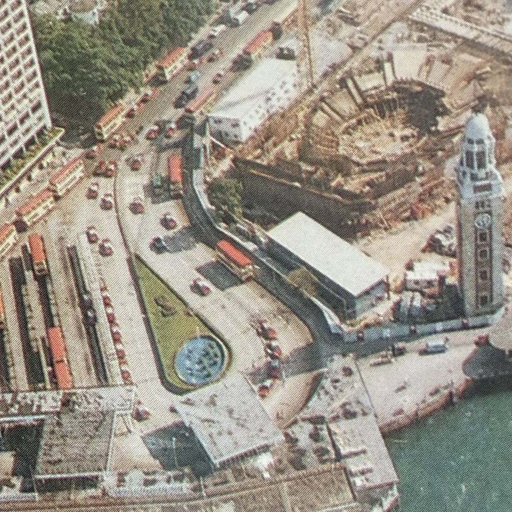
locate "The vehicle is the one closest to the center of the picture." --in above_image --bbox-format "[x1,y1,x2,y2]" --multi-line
[214,246,258,282]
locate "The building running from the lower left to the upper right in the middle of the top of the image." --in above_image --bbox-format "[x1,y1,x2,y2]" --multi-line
[206,40,317,143]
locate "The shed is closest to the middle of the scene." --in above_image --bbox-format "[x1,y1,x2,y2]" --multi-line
[267,211,389,310]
